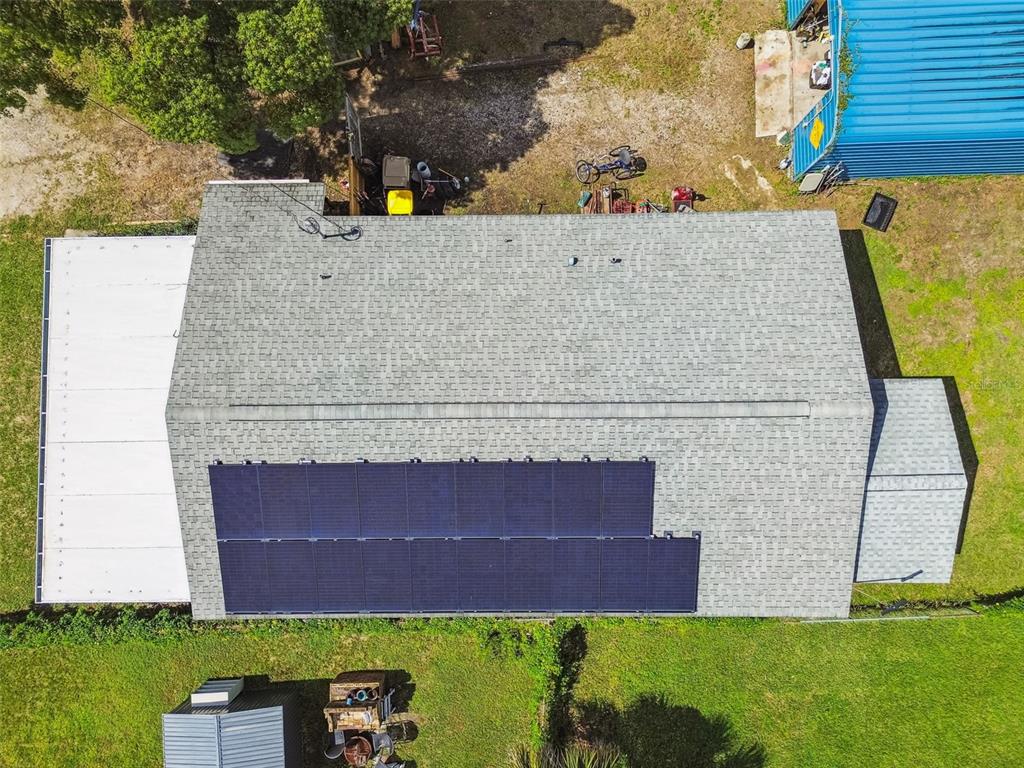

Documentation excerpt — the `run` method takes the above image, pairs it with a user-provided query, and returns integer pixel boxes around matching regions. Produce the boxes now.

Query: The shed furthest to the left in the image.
[161,686,299,768]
